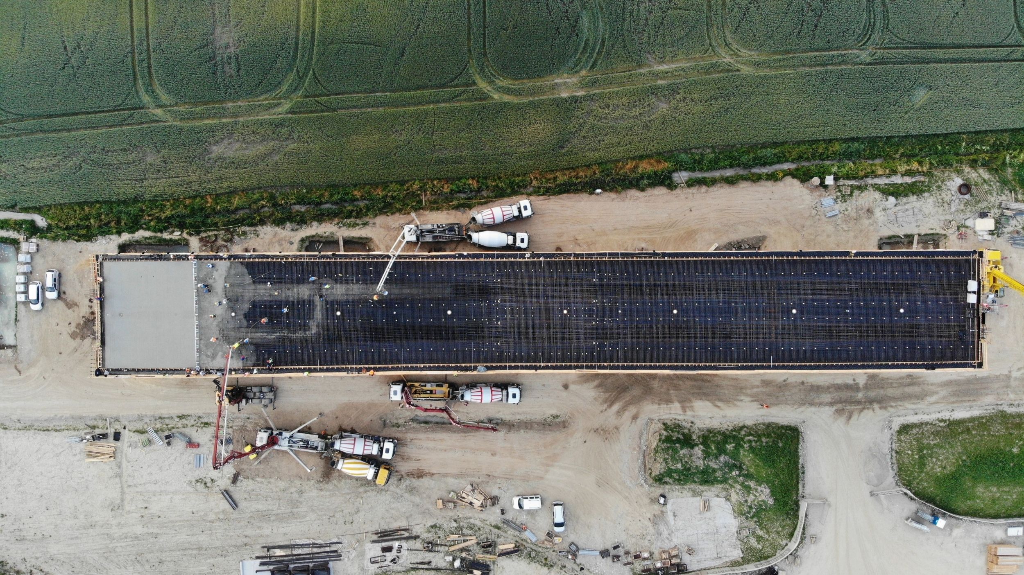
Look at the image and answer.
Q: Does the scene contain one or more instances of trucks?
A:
Yes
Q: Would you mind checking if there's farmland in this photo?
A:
Yes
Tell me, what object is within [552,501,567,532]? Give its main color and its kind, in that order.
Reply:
white car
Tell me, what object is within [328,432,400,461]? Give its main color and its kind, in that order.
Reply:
white truck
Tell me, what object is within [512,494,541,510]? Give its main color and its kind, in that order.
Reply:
white car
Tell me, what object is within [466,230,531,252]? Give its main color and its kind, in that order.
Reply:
white truck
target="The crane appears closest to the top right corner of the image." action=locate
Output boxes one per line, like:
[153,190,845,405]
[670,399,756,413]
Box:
[976,248,1024,307]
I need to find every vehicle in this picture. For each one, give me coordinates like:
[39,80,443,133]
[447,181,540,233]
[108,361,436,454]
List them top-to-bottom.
[469,197,537,229]
[377,212,467,295]
[466,230,531,252]
[44,269,62,299]
[28,281,46,310]
[211,344,328,473]
[388,368,497,431]
[213,376,278,412]
[457,382,523,403]
[328,432,400,461]
[330,453,397,487]
[512,494,541,510]
[552,501,567,532]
